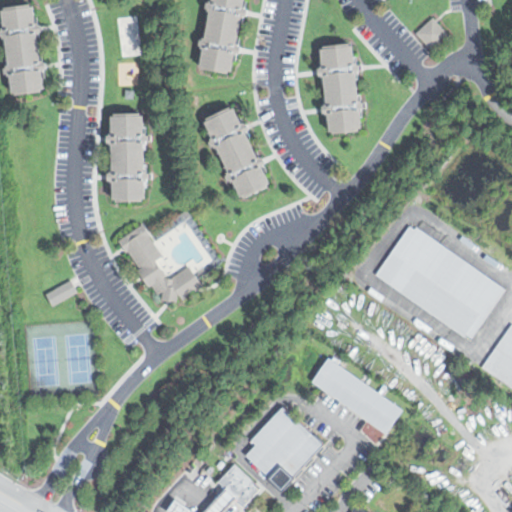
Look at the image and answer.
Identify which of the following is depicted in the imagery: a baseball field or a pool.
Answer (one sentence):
I can see a pool in this picture.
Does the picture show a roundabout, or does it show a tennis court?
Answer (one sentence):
It is a tennis court that can be seen here.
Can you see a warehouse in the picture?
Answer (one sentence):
Yes, there's a warehouse here.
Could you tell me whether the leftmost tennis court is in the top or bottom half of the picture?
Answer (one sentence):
The leftmost tennis court is in the bottom half of the image.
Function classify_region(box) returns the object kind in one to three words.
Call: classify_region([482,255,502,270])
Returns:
vehicle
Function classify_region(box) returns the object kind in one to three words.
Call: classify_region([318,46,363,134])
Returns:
building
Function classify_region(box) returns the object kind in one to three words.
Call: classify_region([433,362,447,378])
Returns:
boat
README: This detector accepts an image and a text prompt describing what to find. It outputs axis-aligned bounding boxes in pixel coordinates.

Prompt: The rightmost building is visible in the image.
[482,323,512,388]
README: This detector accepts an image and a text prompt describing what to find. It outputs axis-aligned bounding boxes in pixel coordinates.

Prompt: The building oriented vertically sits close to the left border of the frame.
[0,6,47,94]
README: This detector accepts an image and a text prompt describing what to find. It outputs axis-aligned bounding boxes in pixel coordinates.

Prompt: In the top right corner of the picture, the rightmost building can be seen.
[416,18,444,46]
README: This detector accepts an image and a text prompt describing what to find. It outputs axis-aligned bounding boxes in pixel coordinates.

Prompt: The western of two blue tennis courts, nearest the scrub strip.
[33,337,59,386]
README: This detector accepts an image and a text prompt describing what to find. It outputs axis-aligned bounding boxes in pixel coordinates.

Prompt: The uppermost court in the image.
[118,16,141,58]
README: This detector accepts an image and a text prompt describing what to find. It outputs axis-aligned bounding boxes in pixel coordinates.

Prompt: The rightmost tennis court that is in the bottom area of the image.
[66,334,92,384]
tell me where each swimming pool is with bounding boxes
[154,222,213,278]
